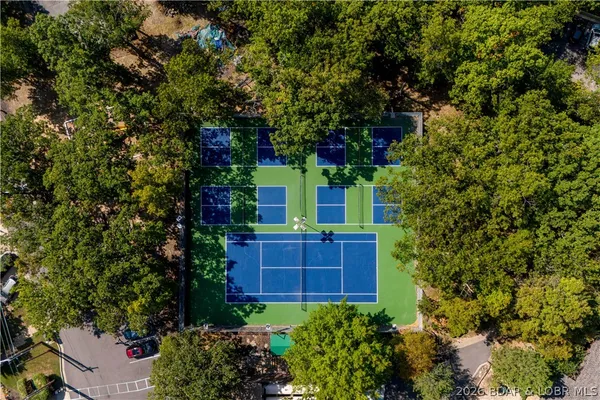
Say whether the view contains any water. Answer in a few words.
No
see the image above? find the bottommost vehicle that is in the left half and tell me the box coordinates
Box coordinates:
[124,340,156,358]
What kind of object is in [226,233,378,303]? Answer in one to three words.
tennis court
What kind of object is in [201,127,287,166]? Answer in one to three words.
sports court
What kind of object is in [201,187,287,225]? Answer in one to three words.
sports court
